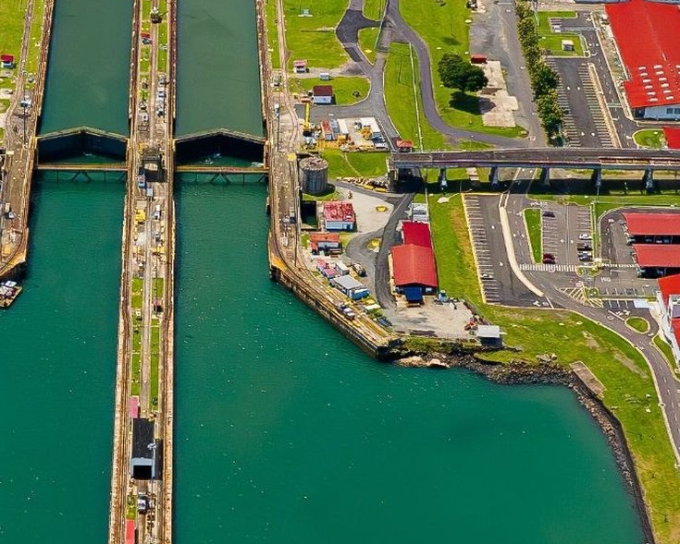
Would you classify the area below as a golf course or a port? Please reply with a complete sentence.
The picture captures a port.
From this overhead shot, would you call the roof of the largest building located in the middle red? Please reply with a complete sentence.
Yes, the roof of the largest building located in the middle appears red.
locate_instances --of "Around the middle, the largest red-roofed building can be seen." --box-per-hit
[382,239,441,300]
